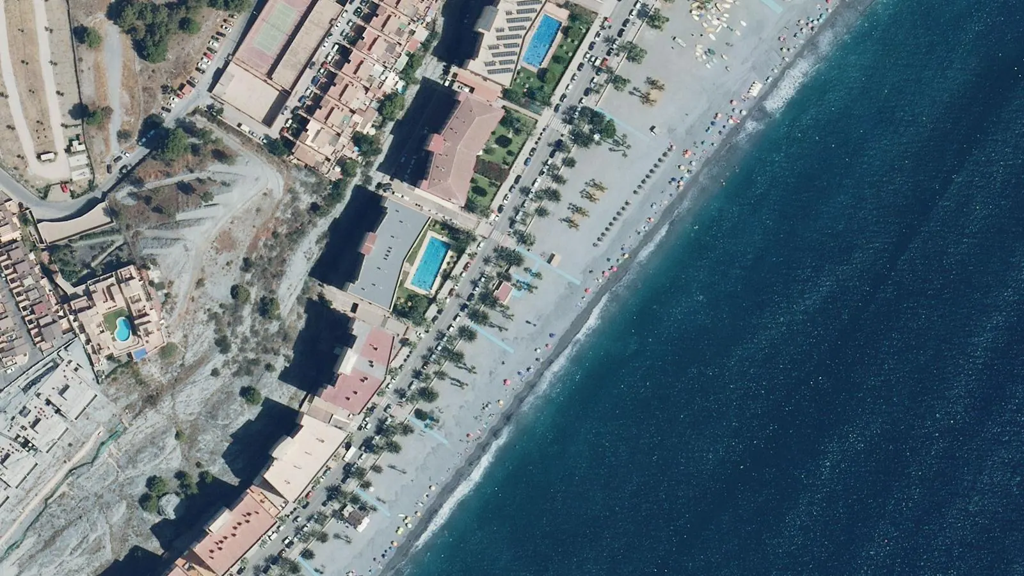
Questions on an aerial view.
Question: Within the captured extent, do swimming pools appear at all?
Yes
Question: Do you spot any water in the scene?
Yes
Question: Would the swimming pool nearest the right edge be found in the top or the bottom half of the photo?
top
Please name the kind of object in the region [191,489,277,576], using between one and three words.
building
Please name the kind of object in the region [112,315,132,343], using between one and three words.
swimming pool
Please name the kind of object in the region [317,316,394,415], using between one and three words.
building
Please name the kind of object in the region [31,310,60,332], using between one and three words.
house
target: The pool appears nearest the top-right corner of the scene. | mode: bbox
[520,2,569,73]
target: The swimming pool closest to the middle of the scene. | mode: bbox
[405,232,453,296]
